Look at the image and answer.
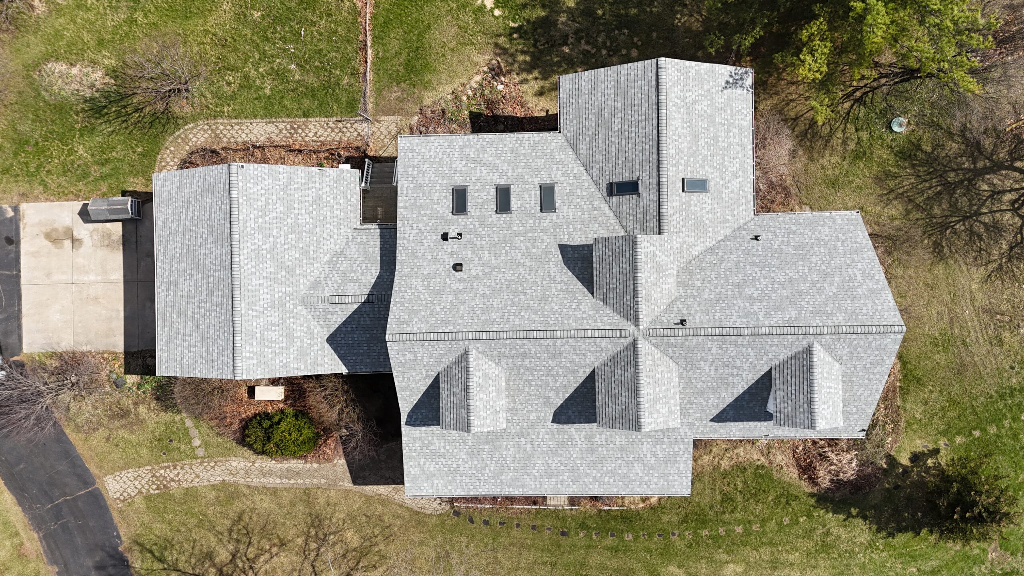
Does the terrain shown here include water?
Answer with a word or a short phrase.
No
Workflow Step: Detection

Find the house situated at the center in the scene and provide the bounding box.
[151,58,905,499]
